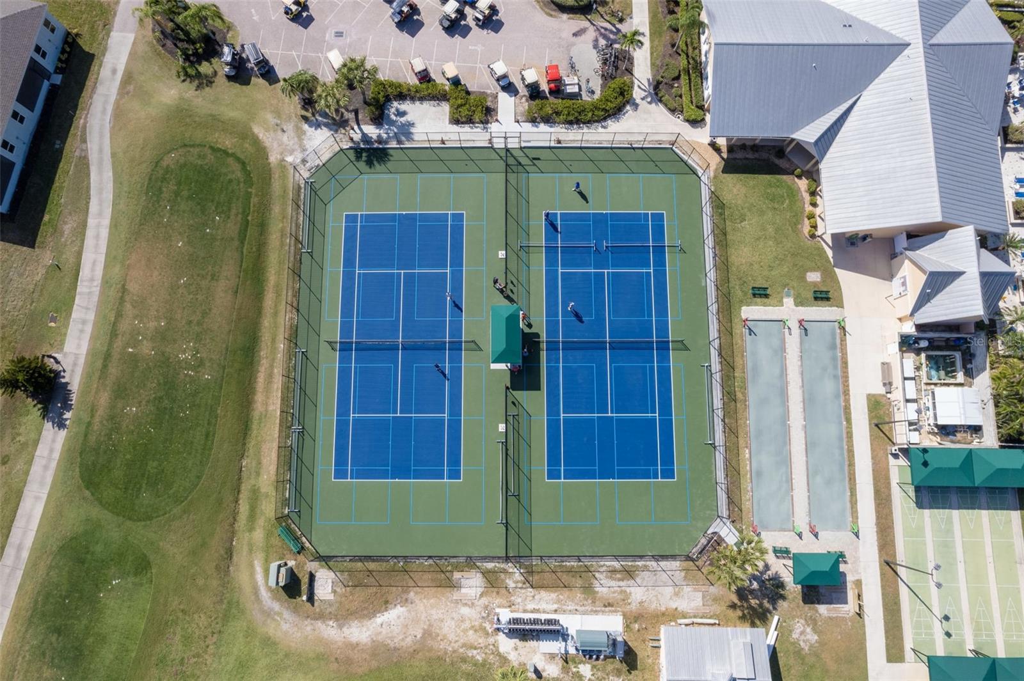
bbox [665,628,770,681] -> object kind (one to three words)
shed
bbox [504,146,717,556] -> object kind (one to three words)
tennis court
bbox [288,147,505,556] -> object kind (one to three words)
tennis court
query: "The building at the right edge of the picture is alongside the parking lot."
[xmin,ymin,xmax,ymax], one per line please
[692,0,1015,246]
